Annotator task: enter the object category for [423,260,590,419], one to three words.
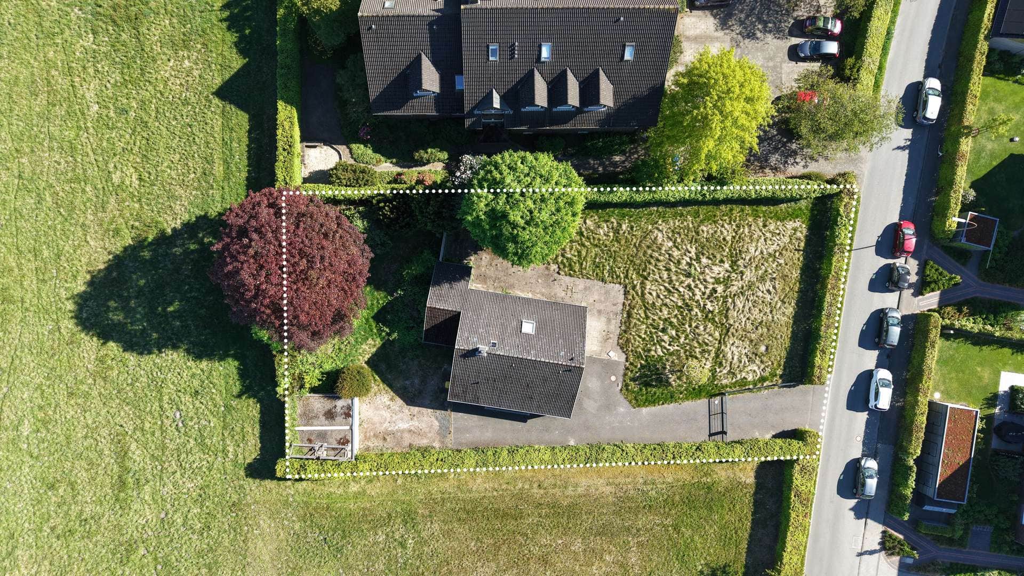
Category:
house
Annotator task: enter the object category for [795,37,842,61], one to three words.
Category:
car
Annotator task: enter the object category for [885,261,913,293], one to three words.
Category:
car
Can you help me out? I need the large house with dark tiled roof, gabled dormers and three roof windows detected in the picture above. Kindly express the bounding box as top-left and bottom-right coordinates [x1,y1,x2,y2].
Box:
[357,0,680,157]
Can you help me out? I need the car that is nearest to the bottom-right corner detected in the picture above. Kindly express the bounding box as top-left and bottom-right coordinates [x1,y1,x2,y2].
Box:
[851,456,880,501]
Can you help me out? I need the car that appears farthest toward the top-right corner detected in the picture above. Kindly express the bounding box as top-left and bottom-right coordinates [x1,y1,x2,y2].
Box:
[913,79,944,125]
